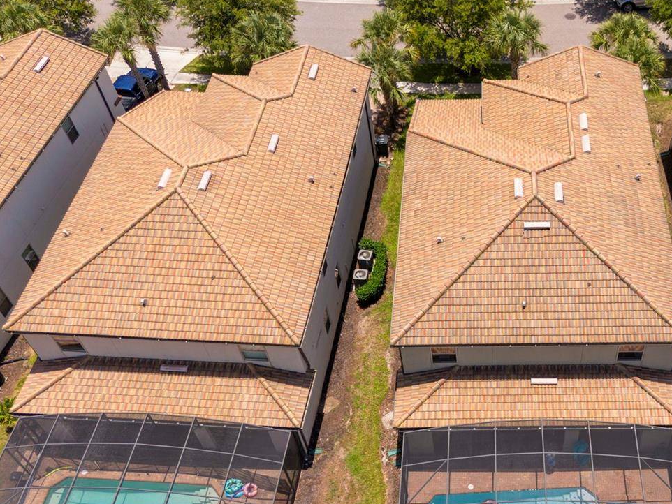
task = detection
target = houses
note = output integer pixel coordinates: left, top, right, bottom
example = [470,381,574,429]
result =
[386,44,672,447]
[0,44,380,446]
